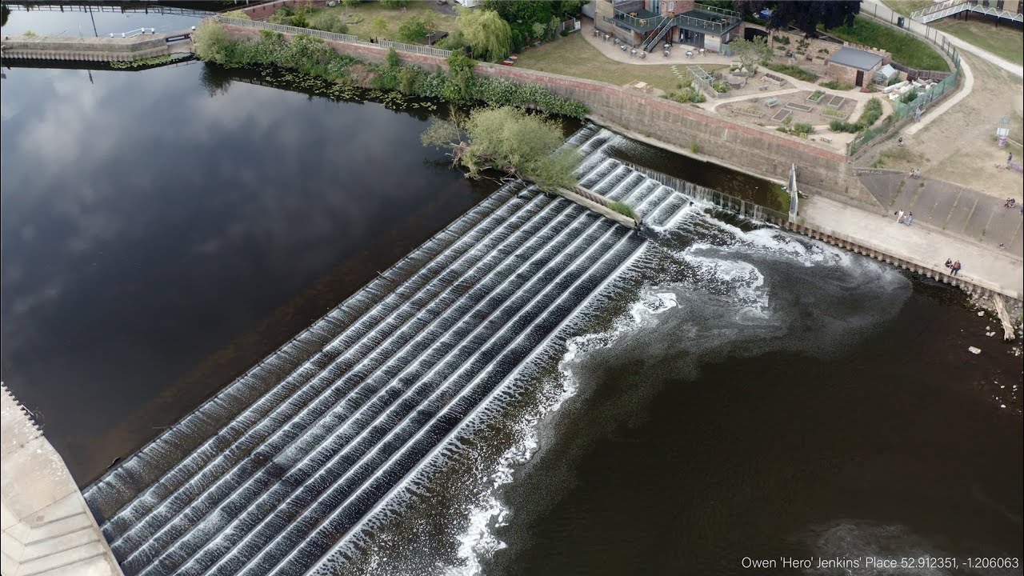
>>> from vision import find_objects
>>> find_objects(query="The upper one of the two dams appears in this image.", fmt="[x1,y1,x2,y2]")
[552,123,689,229]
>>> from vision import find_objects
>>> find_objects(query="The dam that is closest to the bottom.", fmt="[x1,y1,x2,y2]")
[80,180,644,576]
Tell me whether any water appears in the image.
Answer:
Yes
